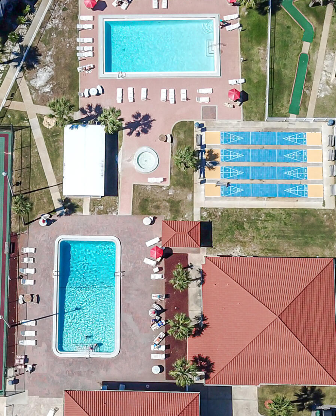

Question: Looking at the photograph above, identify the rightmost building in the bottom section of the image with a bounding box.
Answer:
[186,256,336,385]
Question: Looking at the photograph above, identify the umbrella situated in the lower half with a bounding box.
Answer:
[149,246,163,259]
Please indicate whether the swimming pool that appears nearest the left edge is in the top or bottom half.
bottom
